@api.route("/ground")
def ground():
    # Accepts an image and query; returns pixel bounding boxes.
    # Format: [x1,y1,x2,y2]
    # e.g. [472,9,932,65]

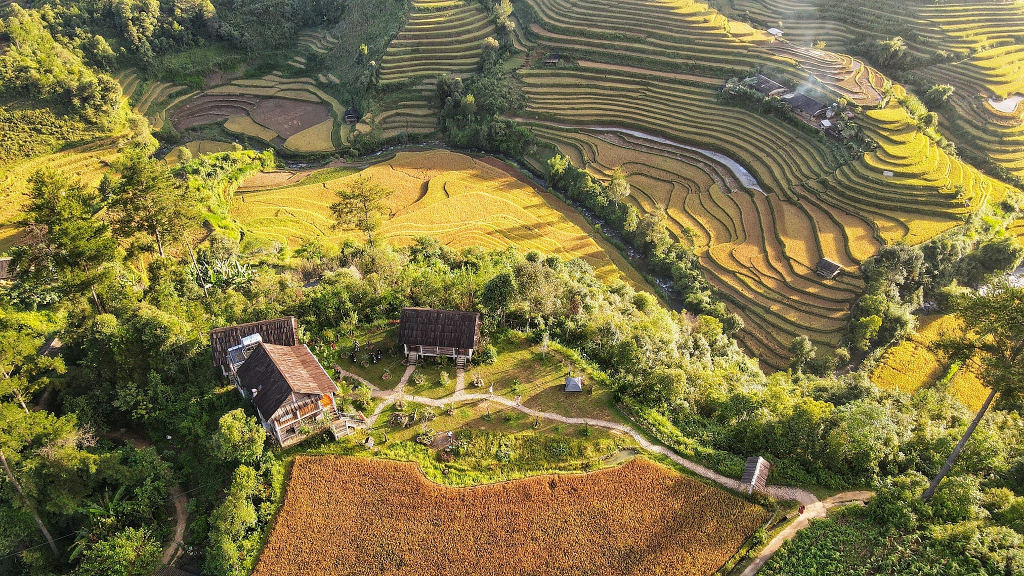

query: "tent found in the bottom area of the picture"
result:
[561,378,583,397]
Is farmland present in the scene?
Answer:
Yes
